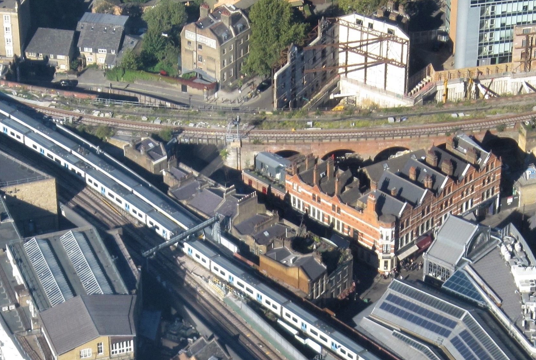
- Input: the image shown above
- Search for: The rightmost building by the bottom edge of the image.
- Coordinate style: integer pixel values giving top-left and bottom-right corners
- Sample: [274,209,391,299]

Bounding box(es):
[466,223,536,360]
